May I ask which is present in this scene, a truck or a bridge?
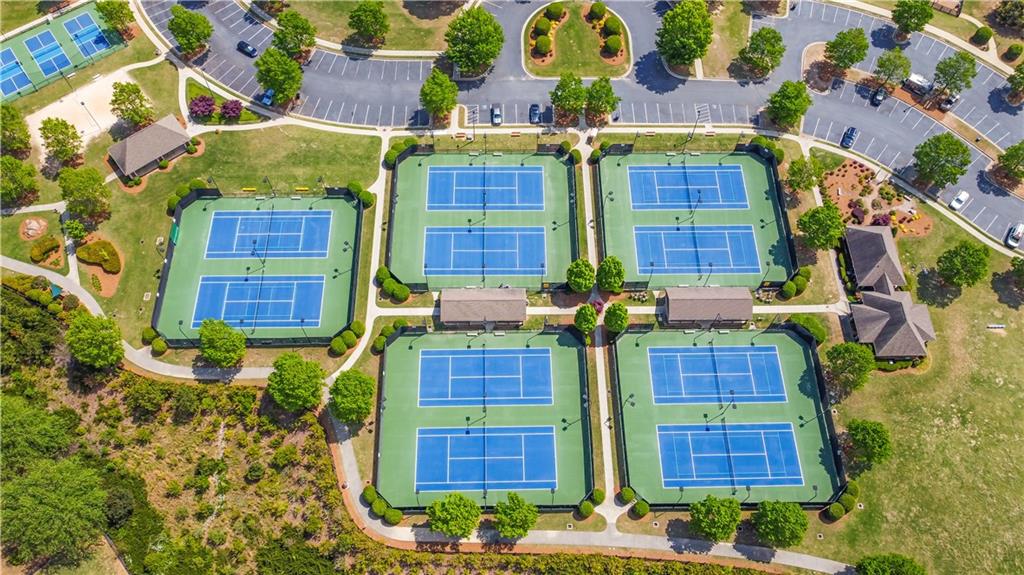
truck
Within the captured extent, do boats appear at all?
No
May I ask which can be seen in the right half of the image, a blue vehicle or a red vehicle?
blue vehicle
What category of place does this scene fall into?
sports ground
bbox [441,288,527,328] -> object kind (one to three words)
building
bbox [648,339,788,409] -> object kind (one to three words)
tennis court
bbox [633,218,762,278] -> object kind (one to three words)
tennis court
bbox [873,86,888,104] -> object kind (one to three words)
car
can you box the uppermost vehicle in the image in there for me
[237,40,257,55]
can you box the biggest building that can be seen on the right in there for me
[843,226,936,365]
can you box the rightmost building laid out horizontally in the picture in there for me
[663,287,754,327]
